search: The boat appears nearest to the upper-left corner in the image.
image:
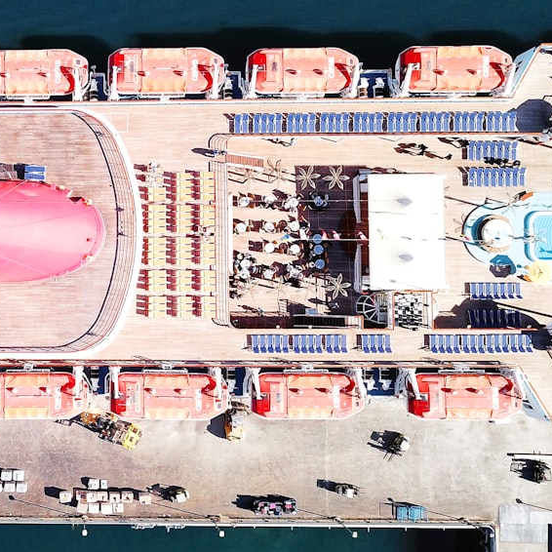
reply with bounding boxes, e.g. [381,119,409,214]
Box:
[0,47,89,99]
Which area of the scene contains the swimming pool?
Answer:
right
